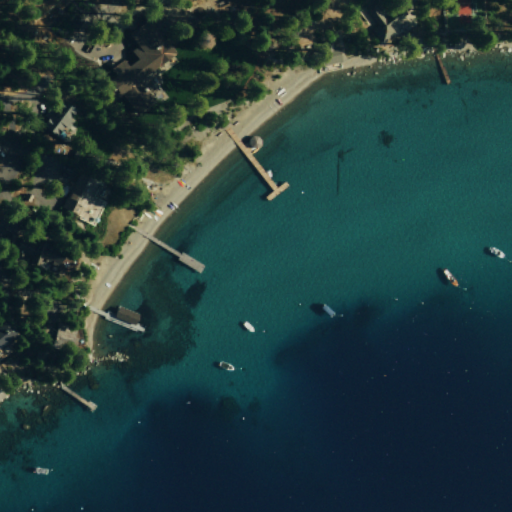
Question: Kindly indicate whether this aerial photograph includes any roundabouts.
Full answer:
No, I can't see a single roundabout in this photo.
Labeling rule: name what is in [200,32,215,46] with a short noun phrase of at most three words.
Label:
gazebo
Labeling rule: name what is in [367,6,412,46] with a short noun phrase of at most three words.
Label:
house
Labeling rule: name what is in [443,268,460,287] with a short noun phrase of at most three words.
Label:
boat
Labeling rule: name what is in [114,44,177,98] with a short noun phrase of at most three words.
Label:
house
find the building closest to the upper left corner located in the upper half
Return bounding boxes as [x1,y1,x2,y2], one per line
[86,1,128,23]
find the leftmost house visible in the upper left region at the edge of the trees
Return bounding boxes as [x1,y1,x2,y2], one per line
[48,102,80,139]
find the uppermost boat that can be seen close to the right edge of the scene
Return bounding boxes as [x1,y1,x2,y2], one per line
[488,246,505,258]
